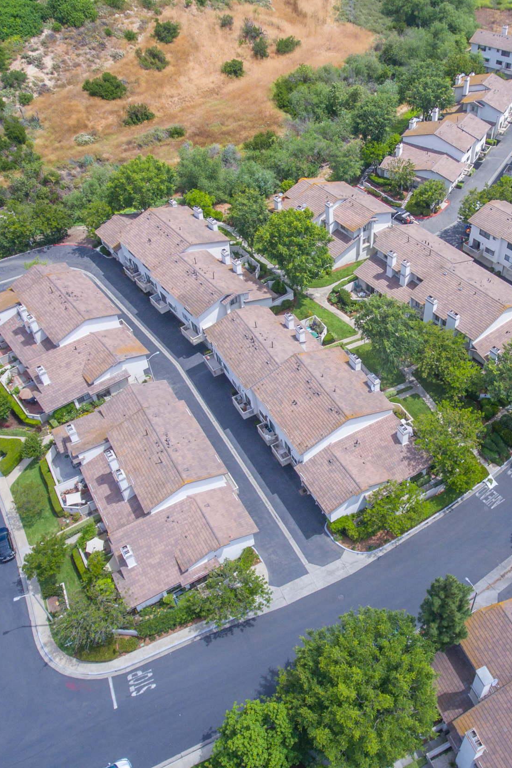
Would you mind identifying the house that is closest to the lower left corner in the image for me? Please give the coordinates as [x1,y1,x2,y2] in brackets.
[61,379,262,630]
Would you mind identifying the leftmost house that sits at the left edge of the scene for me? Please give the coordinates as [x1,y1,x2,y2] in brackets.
[0,262,151,417]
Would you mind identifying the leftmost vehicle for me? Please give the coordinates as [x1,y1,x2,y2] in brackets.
[0,526,16,563]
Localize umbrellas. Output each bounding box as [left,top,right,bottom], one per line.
[19,389,35,406]
[86,538,104,555]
